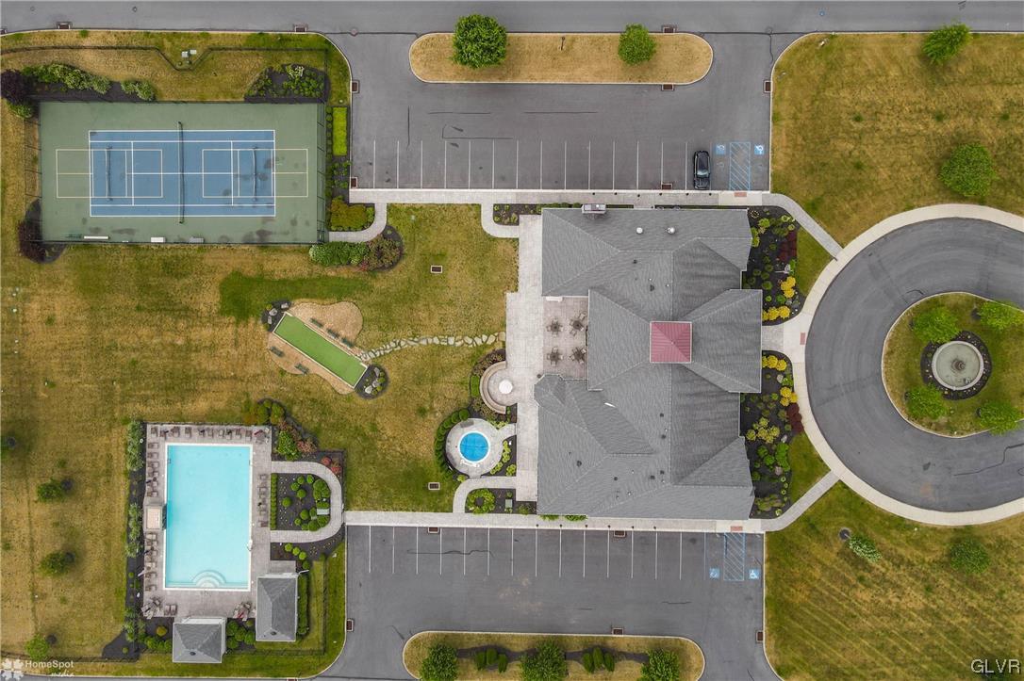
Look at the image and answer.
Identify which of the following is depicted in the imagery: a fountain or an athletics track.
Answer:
fountain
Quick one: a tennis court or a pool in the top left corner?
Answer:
tennis court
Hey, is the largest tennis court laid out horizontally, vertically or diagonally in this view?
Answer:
horizontally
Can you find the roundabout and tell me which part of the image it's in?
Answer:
right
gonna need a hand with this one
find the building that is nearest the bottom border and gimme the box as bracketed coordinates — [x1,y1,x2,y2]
[172,618,227,664]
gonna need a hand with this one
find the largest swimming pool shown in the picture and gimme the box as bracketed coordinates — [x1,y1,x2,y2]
[160,444,253,591]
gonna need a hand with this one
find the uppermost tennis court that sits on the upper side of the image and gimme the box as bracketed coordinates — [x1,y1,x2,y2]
[40,101,326,243]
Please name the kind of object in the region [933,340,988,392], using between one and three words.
fountain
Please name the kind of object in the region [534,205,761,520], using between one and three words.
building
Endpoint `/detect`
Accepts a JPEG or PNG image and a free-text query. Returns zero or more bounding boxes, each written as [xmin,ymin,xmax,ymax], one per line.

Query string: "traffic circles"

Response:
[805,217,1024,512]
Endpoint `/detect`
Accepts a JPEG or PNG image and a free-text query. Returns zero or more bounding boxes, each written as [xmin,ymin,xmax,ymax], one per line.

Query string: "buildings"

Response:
[255,573,300,642]
[534,205,761,520]
[172,618,227,664]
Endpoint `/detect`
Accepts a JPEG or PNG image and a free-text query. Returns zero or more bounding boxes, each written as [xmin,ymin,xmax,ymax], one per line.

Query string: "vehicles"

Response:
[692,152,711,189]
